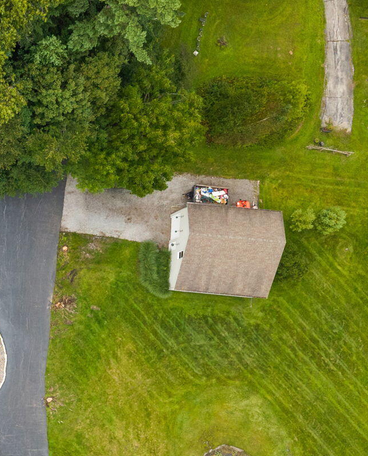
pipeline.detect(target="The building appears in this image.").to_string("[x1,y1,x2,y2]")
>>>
[166,203,288,304]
